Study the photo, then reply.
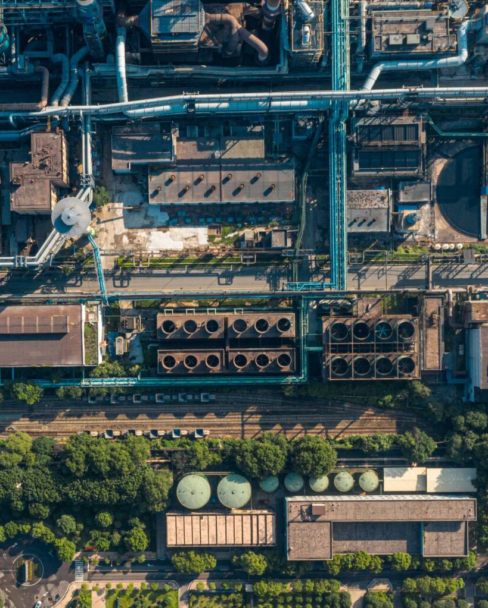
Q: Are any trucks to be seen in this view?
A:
No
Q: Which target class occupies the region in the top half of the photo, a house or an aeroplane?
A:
house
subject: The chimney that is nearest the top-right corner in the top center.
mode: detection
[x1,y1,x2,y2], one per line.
[254,0,284,40]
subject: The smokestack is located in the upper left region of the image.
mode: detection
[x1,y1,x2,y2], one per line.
[74,0,111,65]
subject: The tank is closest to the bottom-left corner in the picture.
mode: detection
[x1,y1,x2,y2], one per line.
[177,471,211,509]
